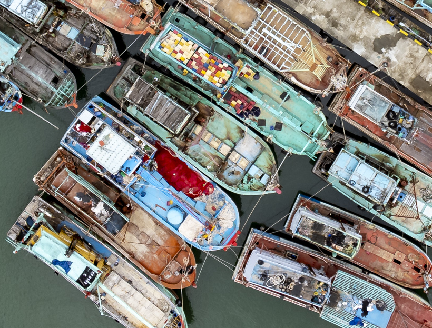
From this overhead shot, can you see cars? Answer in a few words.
No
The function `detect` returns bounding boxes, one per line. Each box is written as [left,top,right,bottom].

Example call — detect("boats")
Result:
[141,5,332,160]
[106,57,281,195]
[283,194,432,289]
[174,0,352,94]
[328,63,432,177]
[73,0,164,35]
[5,197,188,328]
[313,134,432,247]
[0,0,119,70]
[231,229,432,328]
[0,15,80,113]
[0,69,59,129]
[34,146,198,289]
